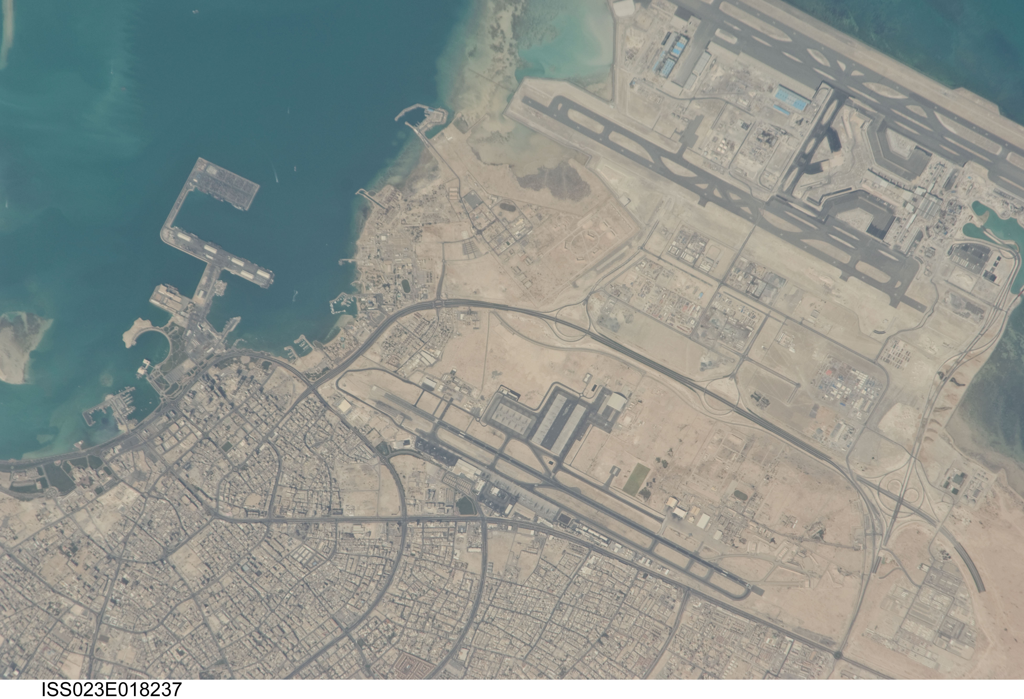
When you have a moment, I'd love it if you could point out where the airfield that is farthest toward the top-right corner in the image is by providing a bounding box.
[516,0,1024,312]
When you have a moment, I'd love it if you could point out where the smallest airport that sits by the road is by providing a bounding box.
[371,385,809,601]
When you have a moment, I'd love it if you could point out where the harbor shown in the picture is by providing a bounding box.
[160,157,274,314]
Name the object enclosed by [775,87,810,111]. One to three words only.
building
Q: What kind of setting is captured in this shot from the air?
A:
port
